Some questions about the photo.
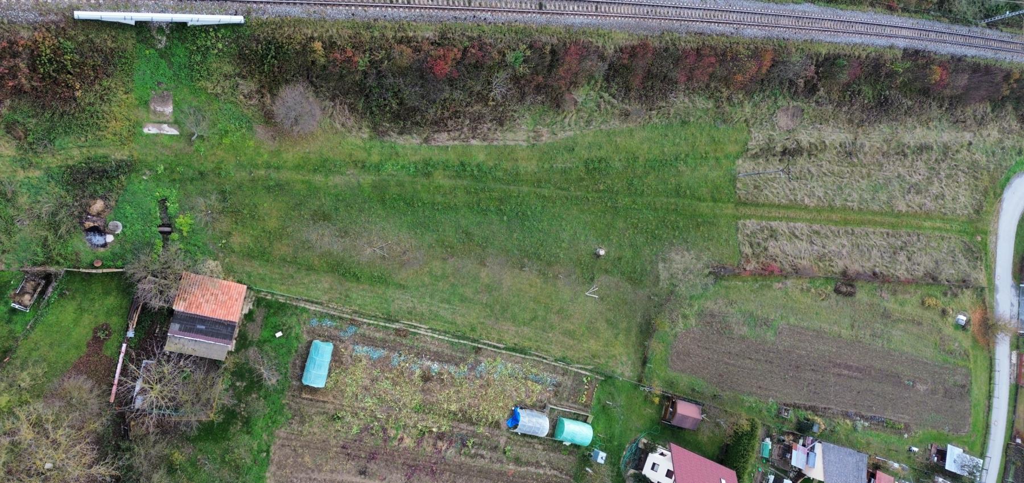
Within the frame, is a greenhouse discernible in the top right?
No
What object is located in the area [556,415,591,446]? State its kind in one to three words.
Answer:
greenhouse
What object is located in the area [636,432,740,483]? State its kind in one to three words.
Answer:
house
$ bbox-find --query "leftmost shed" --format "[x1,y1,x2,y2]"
[164,272,259,361]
